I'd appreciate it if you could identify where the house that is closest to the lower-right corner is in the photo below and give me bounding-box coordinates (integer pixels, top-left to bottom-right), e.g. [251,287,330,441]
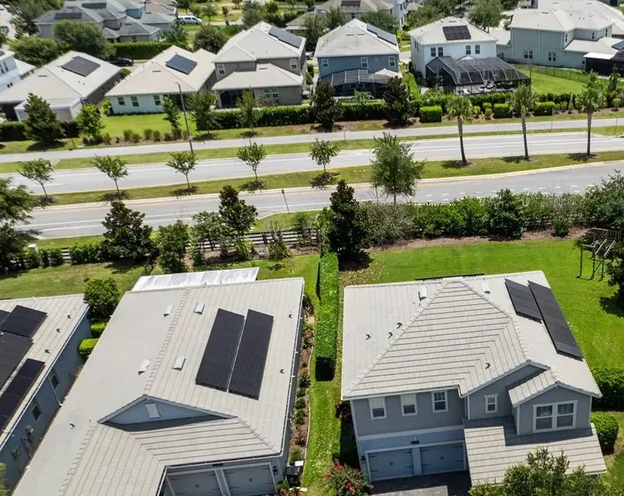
[340,267,610,496]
